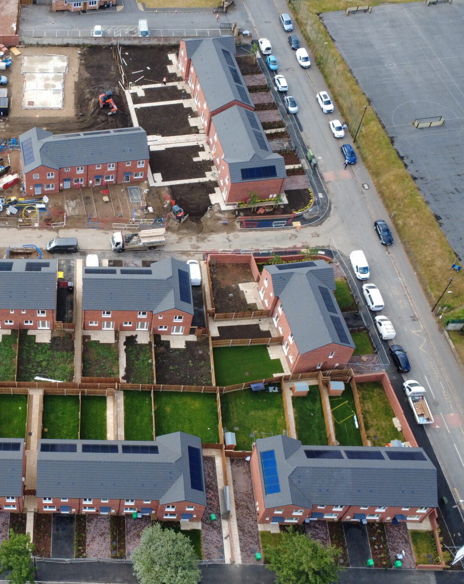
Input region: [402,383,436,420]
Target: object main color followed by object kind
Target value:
white truck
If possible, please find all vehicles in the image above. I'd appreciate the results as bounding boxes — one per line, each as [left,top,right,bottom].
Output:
[329,118,345,138]
[363,284,384,311]
[266,55,278,71]
[388,344,412,373]
[340,144,357,165]
[279,12,293,30]
[47,235,80,253]
[92,23,103,37]
[0,74,8,85]
[273,76,290,92]
[282,95,298,114]
[375,220,392,245]
[375,315,398,341]
[257,39,273,55]
[295,45,311,66]
[138,17,148,36]
[288,34,300,49]
[402,383,436,420]
[112,227,166,251]
[186,261,202,287]
[85,253,100,269]
[350,248,371,278]
[317,91,333,112]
